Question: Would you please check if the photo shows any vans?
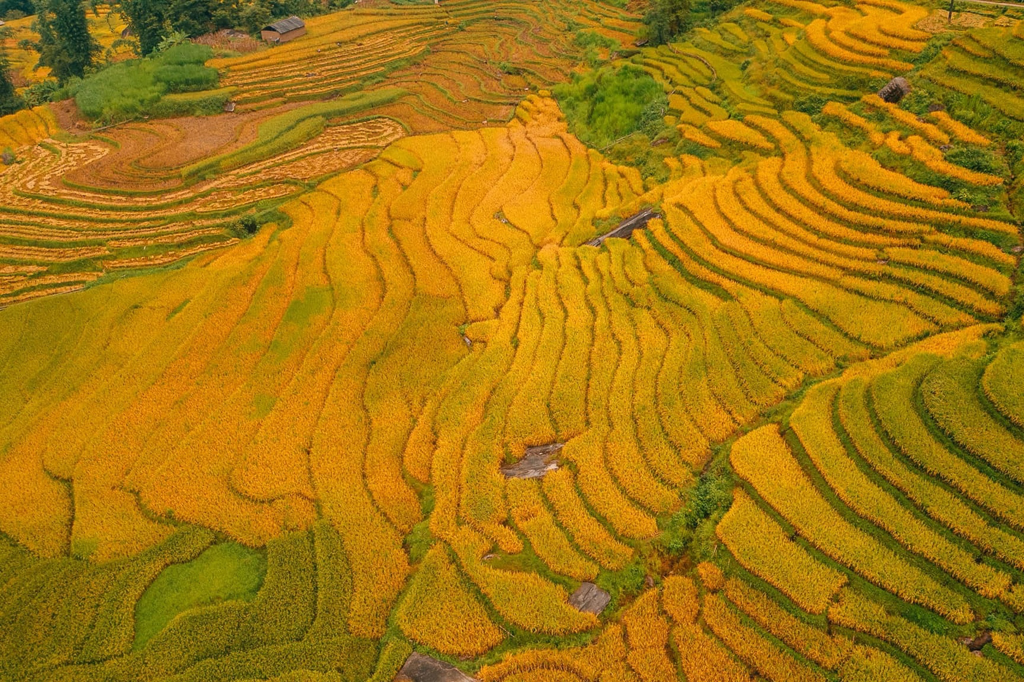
No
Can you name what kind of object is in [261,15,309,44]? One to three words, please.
shed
